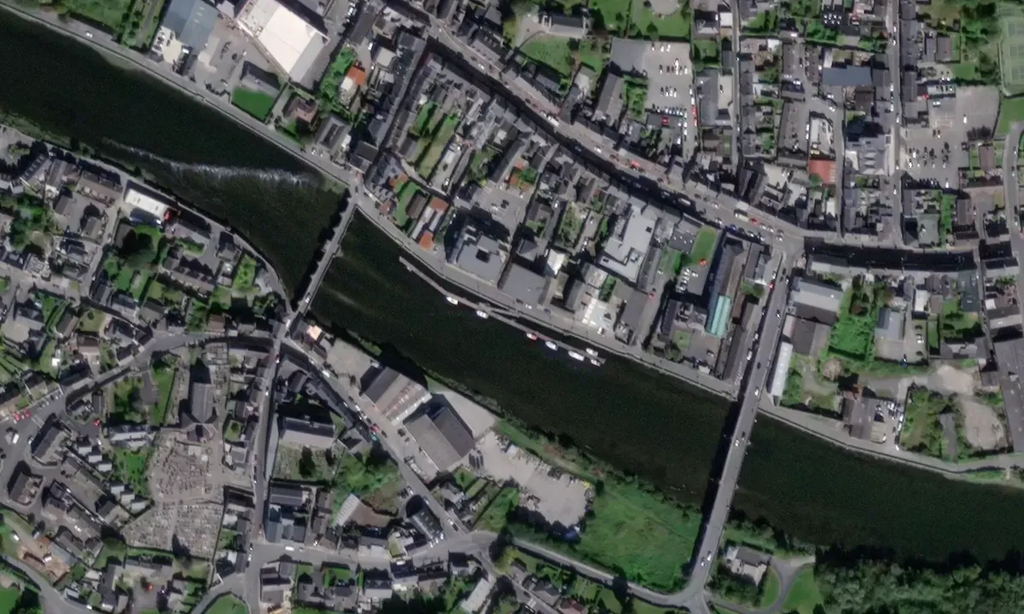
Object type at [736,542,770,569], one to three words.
shed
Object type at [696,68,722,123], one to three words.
house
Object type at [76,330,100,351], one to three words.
house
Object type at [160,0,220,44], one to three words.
building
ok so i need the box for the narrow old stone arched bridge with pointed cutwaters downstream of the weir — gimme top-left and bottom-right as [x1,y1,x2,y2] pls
[292,193,360,317]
